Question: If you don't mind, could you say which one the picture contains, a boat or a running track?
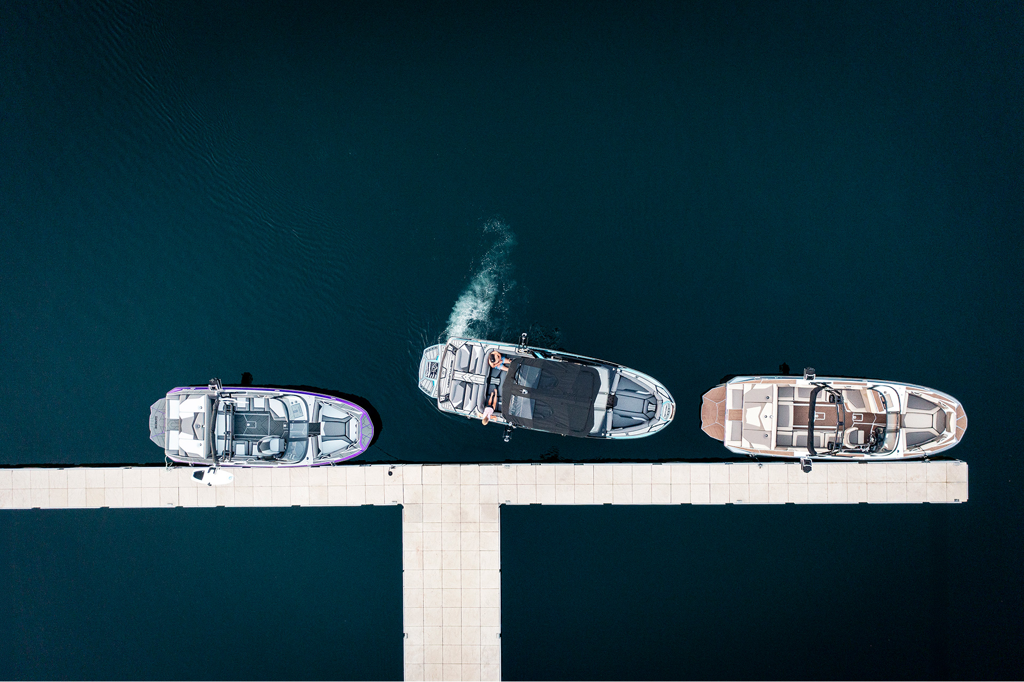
boat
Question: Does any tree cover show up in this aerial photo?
No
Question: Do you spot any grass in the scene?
No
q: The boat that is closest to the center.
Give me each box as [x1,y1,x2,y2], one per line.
[418,333,676,442]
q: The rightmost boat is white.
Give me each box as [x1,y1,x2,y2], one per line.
[700,367,968,473]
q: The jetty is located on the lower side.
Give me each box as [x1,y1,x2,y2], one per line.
[0,461,968,682]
